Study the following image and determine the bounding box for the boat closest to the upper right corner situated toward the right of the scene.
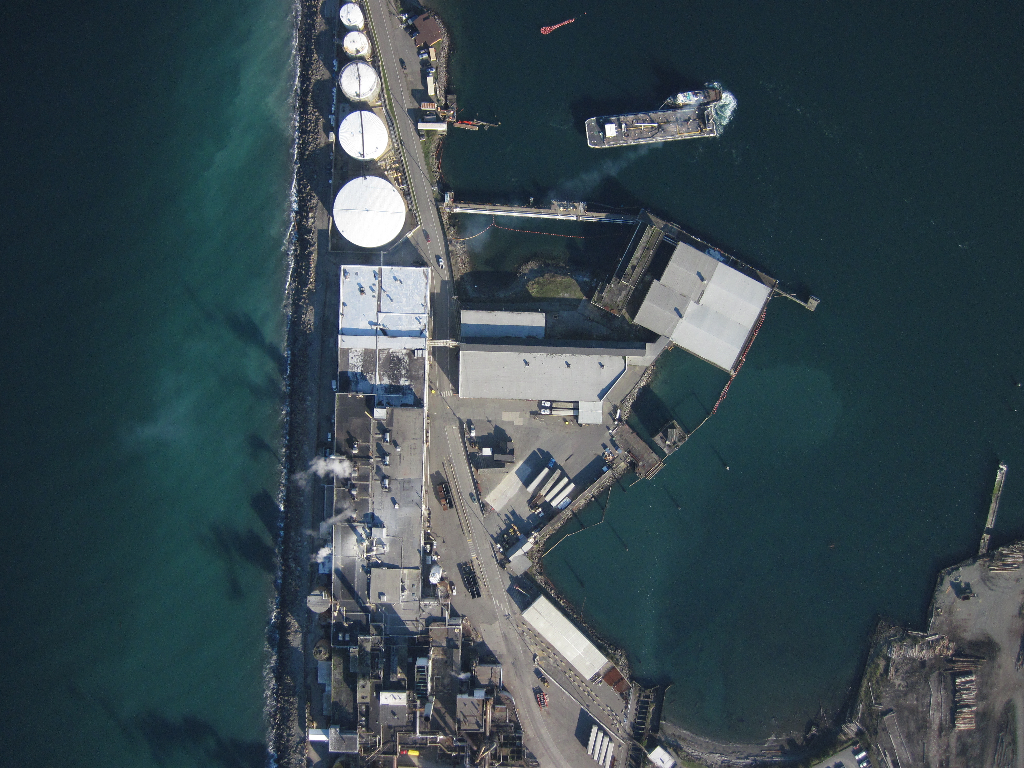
[663,89,722,108]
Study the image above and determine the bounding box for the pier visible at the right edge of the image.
[979,465,1006,554]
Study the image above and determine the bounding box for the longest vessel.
[585,105,716,149]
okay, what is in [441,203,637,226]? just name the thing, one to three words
pier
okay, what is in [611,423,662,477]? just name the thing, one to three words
pier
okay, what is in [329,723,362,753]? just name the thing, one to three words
building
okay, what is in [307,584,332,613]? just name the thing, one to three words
silo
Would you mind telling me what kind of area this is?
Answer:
port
